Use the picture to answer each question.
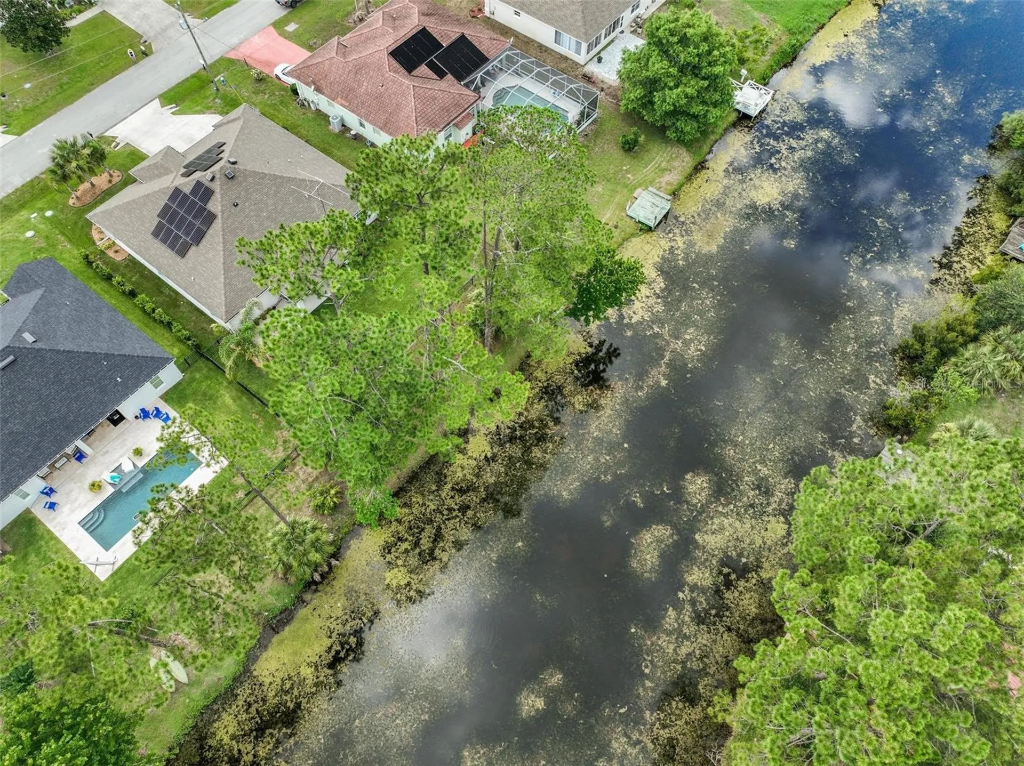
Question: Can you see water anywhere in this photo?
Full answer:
Yes, water shows up in the scene.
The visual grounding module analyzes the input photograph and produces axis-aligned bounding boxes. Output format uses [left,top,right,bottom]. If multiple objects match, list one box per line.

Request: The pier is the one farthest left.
[626,185,680,237]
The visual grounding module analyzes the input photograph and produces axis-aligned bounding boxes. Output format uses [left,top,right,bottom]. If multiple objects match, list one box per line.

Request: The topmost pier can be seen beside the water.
[723,71,783,123]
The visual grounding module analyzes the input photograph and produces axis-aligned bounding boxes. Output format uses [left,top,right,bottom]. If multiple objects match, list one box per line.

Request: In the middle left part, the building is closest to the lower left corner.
[0,255,185,533]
